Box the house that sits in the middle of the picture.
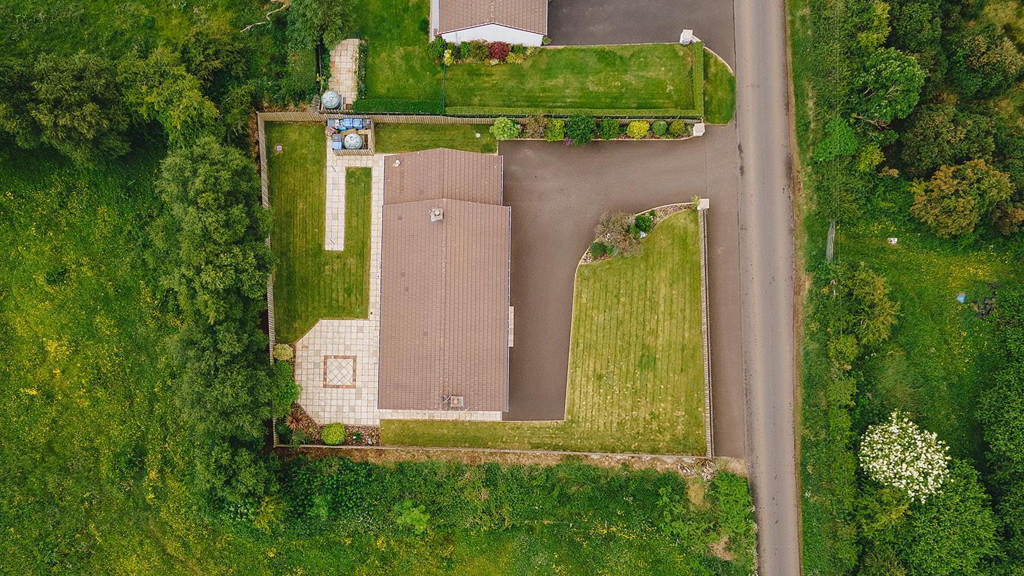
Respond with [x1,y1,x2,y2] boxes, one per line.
[377,149,515,411]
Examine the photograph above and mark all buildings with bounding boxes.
[433,0,550,49]
[377,149,515,411]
